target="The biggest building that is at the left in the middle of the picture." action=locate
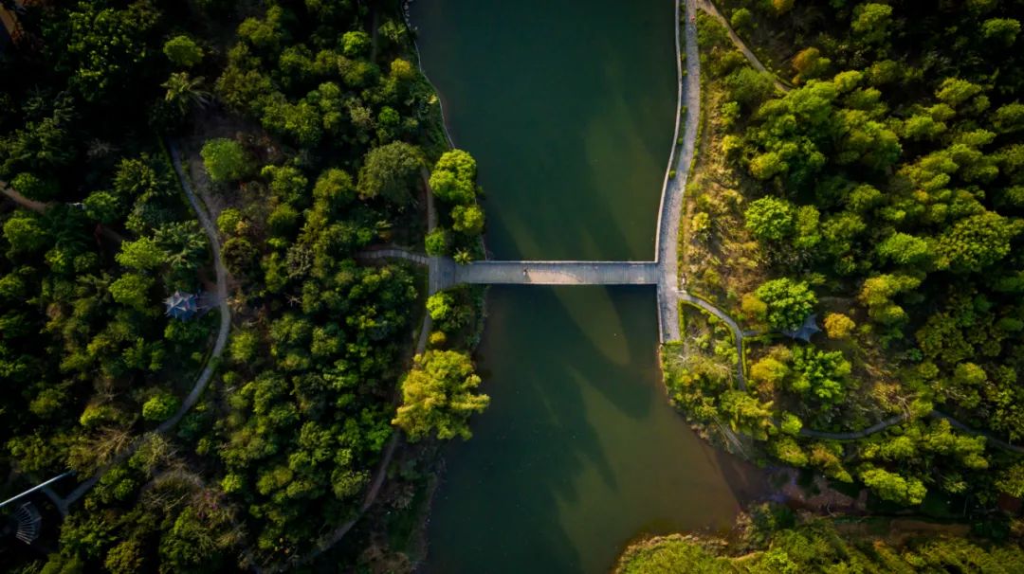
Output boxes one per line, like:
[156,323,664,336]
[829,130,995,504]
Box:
[157,284,201,324]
